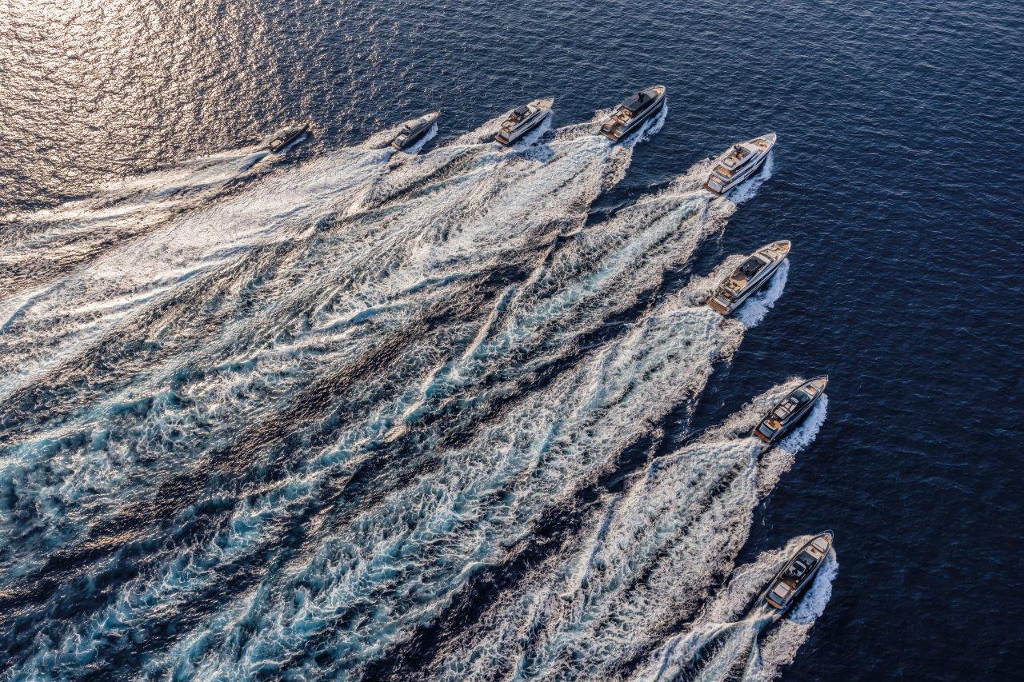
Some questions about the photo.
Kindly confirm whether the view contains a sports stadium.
No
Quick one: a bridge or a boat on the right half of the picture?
boat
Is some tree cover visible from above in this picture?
No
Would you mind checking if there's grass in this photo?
No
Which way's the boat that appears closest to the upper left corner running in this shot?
at an angle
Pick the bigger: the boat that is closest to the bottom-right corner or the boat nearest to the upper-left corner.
the boat that is closest to the bottom-right corner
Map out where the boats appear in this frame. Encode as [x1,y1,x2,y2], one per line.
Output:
[494,94,554,146]
[600,83,667,142]
[703,128,777,197]
[751,373,828,447]
[764,533,833,613]
[268,122,307,152]
[706,239,792,316]
[390,108,440,151]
